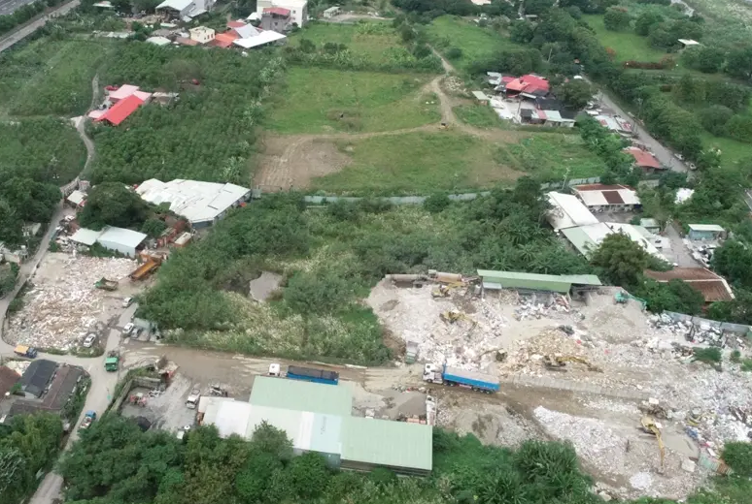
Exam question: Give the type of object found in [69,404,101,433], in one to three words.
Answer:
truck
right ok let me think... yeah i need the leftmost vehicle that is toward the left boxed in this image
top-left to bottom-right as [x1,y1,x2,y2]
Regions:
[7,340,40,358]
